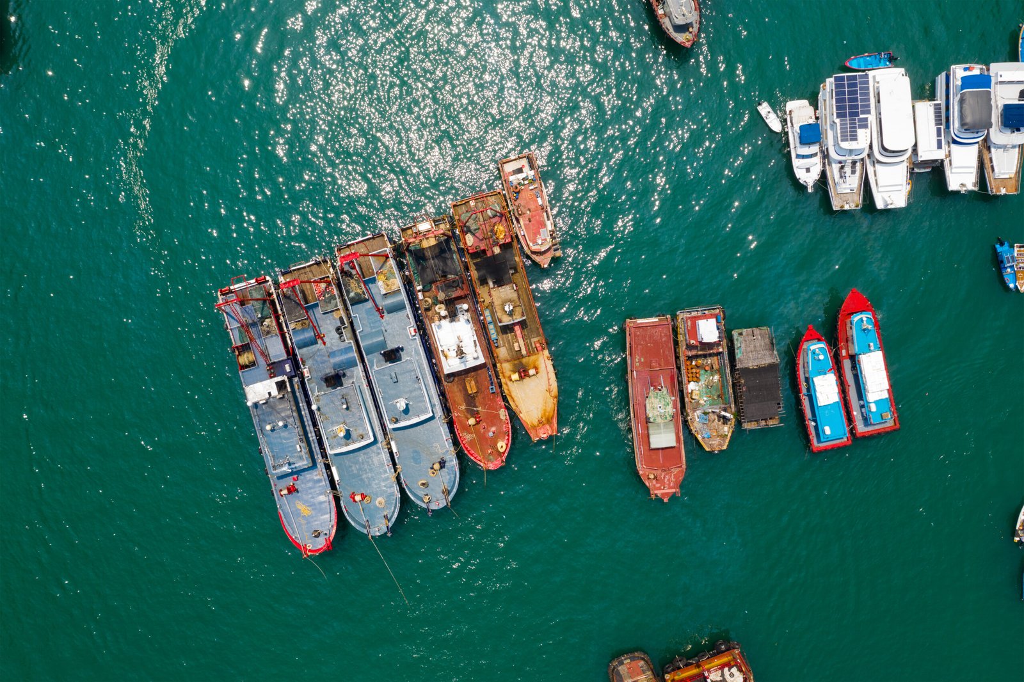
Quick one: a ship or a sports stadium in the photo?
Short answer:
ship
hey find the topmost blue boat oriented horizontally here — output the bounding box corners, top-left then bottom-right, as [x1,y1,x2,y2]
[843,51,900,70]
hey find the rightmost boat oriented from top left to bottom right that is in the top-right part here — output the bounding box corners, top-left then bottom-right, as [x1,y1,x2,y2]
[757,98,782,133]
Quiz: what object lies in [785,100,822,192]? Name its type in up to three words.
boat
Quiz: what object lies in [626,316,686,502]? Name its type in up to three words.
ship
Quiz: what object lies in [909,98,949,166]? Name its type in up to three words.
boat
